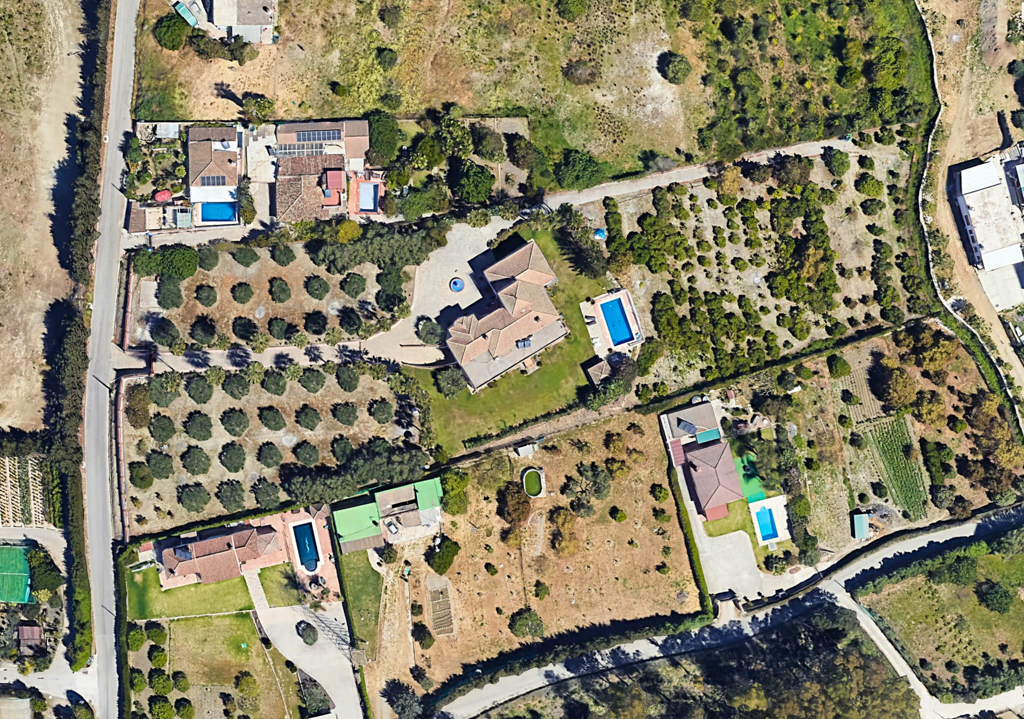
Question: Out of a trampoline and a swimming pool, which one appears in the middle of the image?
swimming pool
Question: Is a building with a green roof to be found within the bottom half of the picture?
Yes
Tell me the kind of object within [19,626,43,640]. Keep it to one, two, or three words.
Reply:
shed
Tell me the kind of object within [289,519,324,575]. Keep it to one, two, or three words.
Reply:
swimming pool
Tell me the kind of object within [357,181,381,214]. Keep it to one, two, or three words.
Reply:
swimming pool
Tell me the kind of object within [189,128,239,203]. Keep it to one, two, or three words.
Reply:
house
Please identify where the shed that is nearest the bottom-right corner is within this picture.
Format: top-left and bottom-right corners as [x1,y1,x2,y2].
[853,514,869,538]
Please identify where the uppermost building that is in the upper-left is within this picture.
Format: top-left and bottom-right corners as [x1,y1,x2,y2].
[214,0,274,44]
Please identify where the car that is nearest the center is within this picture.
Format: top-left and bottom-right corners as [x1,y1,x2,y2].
[381,517,399,537]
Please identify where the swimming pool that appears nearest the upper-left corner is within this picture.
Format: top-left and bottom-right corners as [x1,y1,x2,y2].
[195,202,238,224]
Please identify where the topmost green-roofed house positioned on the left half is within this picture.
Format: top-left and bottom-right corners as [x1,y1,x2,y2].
[333,478,443,554]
